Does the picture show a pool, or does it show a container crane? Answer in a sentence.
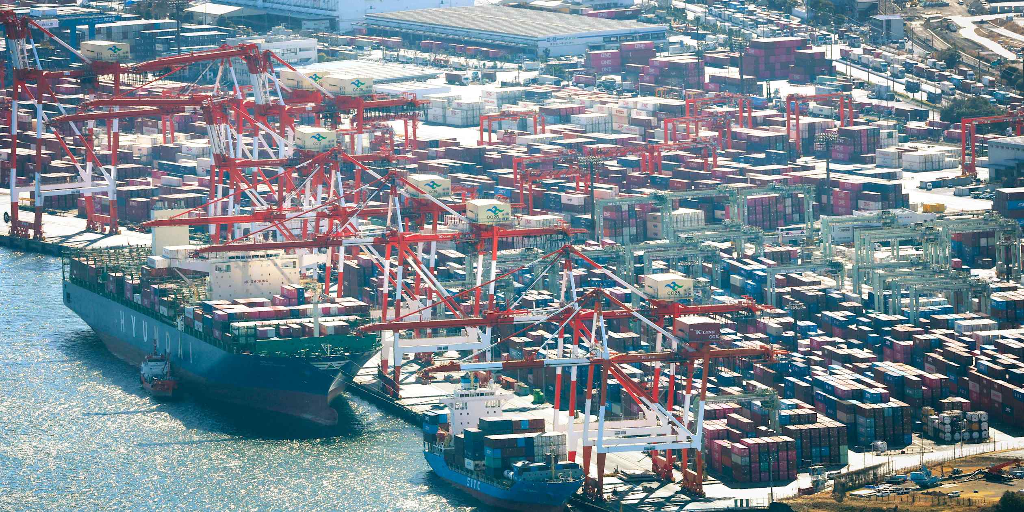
Visible in the photo is a container crane.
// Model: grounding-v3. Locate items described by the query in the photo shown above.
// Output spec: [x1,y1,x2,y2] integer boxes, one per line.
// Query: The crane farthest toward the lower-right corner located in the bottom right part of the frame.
[966,457,1013,481]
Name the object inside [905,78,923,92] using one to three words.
vehicle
